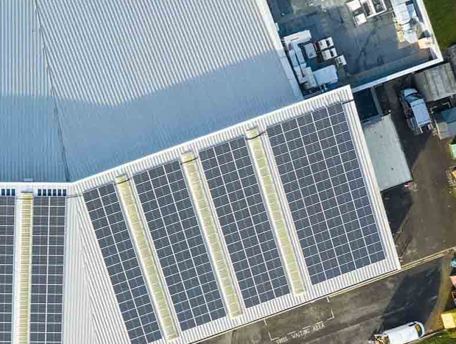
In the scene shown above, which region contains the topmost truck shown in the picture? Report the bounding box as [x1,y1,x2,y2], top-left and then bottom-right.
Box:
[398,90,435,135]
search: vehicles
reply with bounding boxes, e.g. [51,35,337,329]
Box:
[368,321,427,344]
[398,90,435,135]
